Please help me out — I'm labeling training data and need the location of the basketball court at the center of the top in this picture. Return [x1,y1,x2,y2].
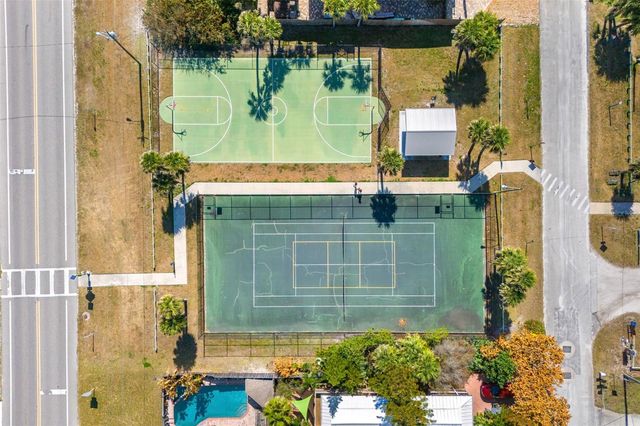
[159,58,385,162]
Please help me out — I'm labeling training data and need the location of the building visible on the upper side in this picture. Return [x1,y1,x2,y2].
[399,109,456,159]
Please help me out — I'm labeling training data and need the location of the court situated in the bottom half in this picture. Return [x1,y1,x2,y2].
[204,195,486,333]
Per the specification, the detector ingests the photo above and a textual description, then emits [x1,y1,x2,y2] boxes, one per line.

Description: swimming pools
[168,377,262,426]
